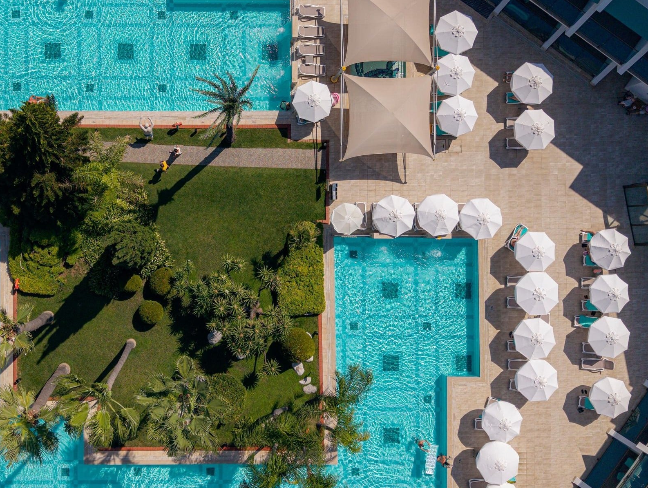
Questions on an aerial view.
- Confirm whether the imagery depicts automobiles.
No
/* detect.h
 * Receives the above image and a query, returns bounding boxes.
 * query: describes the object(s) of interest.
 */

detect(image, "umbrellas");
[586,313,631,358]
[435,93,478,138]
[371,193,416,238]
[437,11,479,56]
[291,79,333,123]
[431,55,473,96]
[511,358,557,402]
[586,272,630,315]
[510,317,556,361]
[511,63,554,107]
[586,375,631,419]
[511,109,555,152]
[475,441,519,485]
[331,203,364,235]
[416,193,460,237]
[515,271,558,313]
[587,230,631,271]
[458,197,503,242]
[510,230,556,273]
[480,401,524,443]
